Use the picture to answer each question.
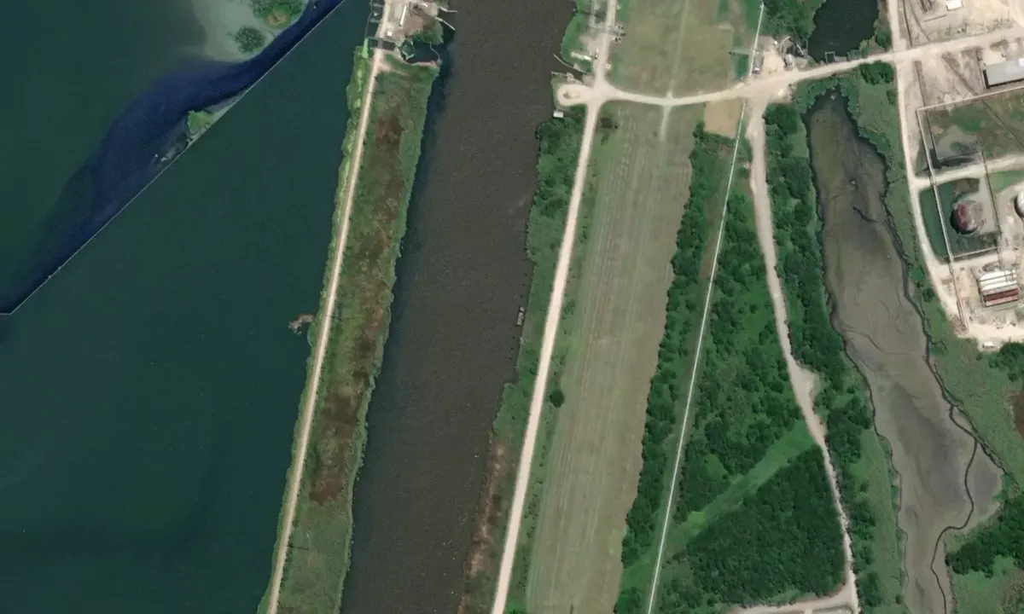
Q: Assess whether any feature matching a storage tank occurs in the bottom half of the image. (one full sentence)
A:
No, in the bottom half of the image there is no storage tank.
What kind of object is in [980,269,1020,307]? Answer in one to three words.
building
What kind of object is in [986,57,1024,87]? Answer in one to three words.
building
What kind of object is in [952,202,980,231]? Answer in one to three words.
storage tank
